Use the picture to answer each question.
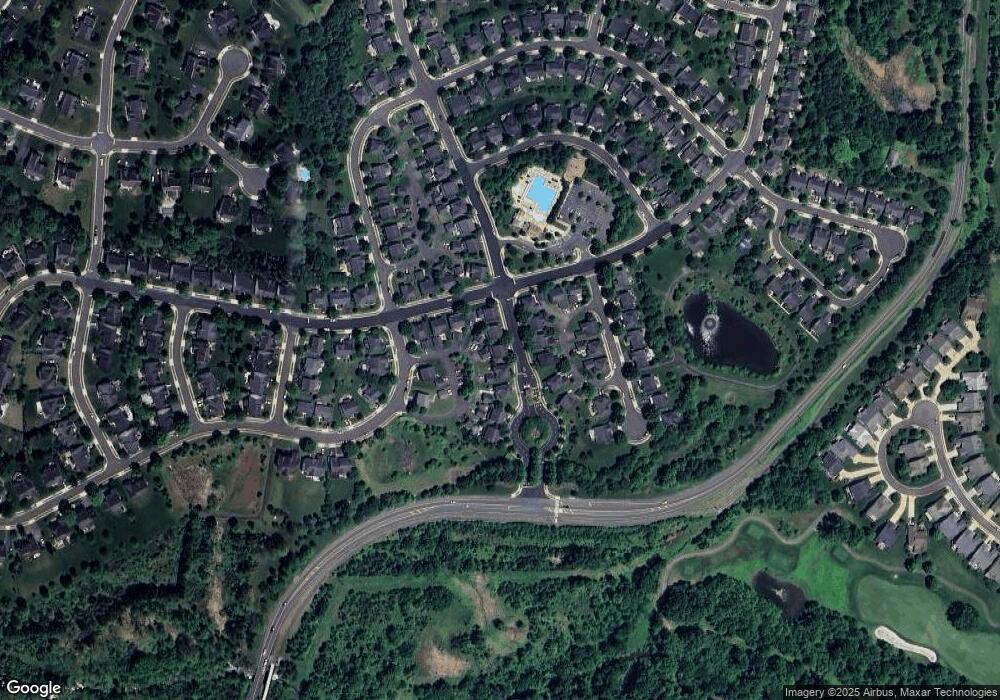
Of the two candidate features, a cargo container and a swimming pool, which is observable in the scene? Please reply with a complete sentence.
This aerial view contains a swimming pool.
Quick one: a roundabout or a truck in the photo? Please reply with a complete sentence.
Visible in the photo is a roundabout.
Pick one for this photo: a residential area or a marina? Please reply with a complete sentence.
The area seen from above is a residential area.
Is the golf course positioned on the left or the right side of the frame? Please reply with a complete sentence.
It is on the right.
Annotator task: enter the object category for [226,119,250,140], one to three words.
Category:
house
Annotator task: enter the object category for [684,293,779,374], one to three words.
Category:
pond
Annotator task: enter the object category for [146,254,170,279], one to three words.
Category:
house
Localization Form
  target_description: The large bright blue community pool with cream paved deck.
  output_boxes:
[512,168,562,232]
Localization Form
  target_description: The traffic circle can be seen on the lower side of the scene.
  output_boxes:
[512,405,560,498]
